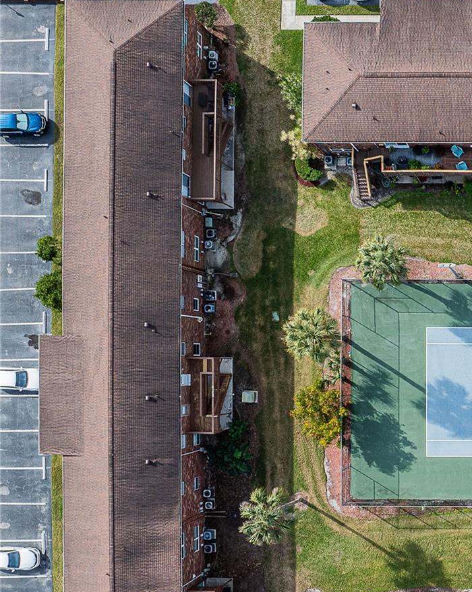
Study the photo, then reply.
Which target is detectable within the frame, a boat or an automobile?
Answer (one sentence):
This aerial view contains an automobile.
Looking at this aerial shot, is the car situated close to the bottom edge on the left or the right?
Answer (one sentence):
You can find the car situated close to the bottom edge on the left side of the picture.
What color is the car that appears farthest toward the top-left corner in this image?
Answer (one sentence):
In this view, the car that appears farthest toward the top-left corner is blue.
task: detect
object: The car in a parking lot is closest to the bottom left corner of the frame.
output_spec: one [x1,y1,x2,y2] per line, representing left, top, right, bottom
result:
[0,546,43,573]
